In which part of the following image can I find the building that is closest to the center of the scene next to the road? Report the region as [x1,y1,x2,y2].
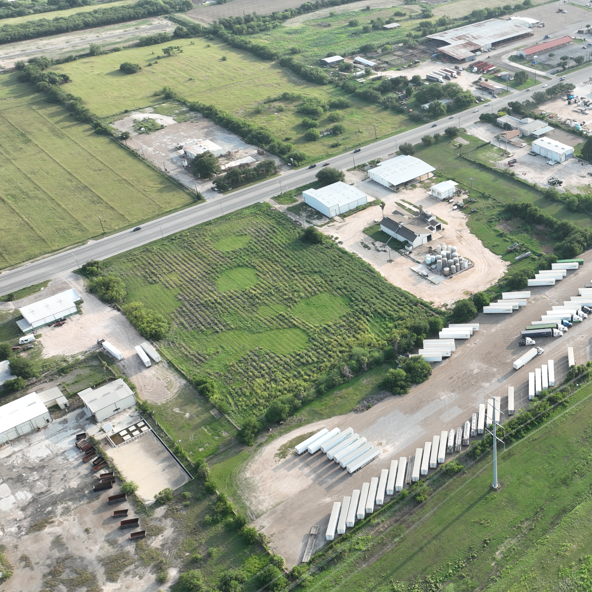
[307,180,368,218]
